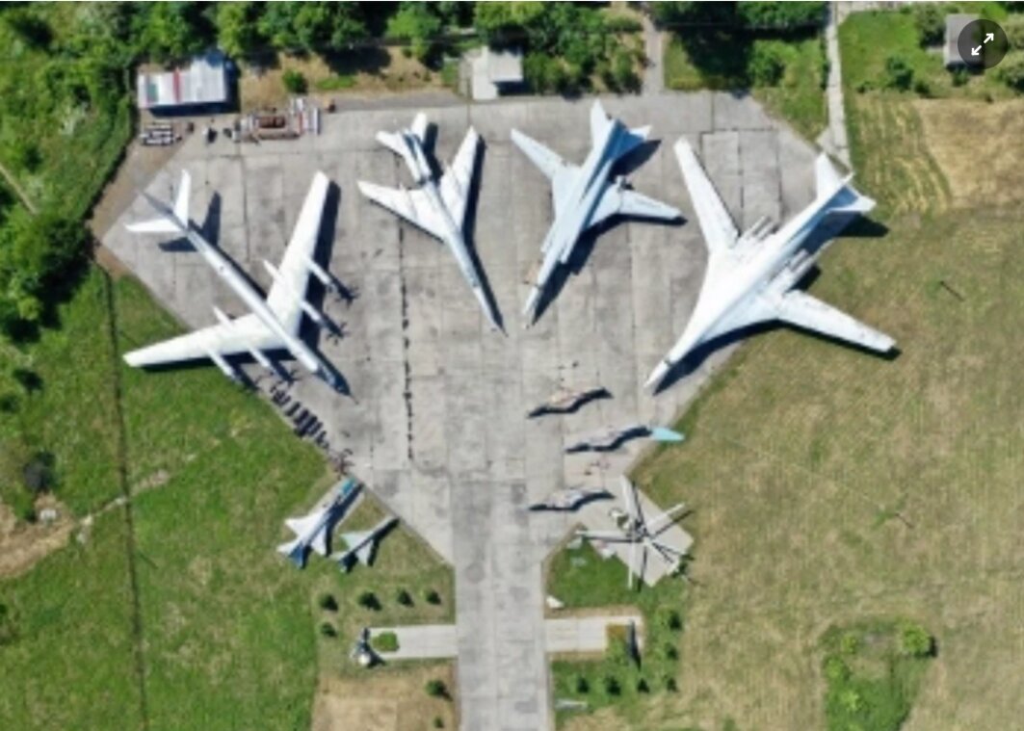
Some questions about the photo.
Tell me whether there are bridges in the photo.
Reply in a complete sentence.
No, I can't see a single bridge in this photo.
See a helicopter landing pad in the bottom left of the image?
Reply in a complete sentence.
No, I see no helicopter landing pad in the bottom left of the image.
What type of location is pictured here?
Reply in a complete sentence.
The picture captures an airport.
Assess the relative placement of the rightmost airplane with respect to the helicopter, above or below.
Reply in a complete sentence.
In the image, the rightmost airplane sits above the helicopter.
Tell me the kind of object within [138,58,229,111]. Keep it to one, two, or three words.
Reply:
shed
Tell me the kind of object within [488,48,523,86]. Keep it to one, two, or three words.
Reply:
shed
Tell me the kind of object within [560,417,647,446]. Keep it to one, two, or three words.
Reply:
airplane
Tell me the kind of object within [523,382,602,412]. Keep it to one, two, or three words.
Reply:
airplane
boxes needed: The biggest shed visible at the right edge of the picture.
[940,14,984,66]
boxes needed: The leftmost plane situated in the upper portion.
[125,170,347,390]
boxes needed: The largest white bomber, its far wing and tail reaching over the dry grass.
[644,134,895,386]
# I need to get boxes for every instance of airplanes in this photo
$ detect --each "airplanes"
[560,417,647,446]
[276,475,355,569]
[644,134,895,386]
[523,382,602,412]
[125,170,347,390]
[509,101,681,319]
[358,110,501,338]
[329,514,397,572]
